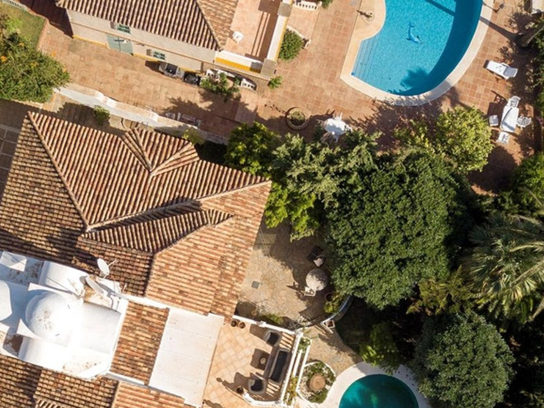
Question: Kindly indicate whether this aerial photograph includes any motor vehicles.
No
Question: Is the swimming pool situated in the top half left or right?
right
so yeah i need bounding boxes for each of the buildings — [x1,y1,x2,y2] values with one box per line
[0,111,273,408]
[54,0,303,93]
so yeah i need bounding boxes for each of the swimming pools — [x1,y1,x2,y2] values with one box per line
[352,0,487,94]
[338,374,419,408]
